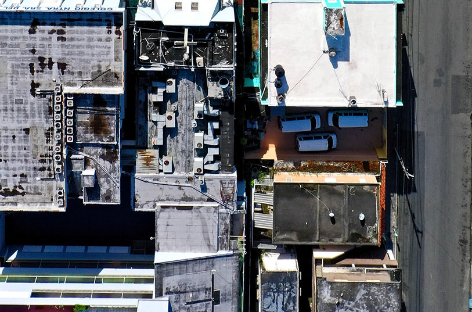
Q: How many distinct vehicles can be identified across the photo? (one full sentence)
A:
In total, there are 3 vehicles in the scene.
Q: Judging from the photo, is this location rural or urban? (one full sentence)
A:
The area is urban.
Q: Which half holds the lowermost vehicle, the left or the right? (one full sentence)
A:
The lowermost vehicle appears in the right half of the scene.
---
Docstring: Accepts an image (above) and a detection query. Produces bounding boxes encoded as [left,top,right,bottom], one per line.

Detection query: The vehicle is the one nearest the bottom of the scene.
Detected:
[295,127,335,151]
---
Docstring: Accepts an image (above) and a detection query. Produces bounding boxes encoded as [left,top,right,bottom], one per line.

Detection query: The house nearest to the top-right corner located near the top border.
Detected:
[256,0,403,107]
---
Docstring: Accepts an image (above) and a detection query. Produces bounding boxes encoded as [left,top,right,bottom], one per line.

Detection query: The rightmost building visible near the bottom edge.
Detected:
[311,235,401,312]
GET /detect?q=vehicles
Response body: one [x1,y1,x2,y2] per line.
[327,107,368,128]
[295,127,335,151]
[279,109,319,132]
